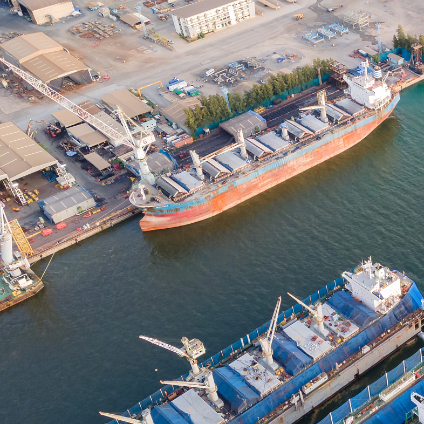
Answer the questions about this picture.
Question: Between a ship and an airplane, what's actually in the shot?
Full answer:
This aerial view contains a ship.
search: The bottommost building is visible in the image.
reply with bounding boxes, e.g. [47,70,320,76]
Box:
[41,183,99,221]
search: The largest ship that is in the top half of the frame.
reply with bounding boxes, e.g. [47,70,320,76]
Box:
[136,57,405,232]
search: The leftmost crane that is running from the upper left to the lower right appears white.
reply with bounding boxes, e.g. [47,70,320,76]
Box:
[0,59,163,191]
